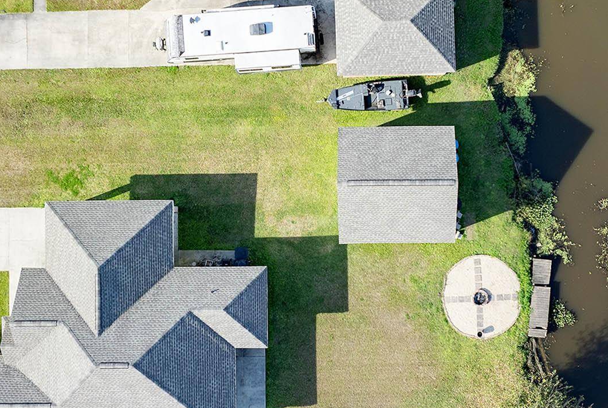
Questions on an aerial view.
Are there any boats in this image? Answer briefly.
Yes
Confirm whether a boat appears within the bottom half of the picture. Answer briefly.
No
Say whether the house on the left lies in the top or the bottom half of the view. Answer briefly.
bottom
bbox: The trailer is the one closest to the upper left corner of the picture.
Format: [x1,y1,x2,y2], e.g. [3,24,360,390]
[155,4,325,77]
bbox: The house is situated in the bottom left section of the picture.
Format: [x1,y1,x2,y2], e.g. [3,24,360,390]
[0,200,269,408]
